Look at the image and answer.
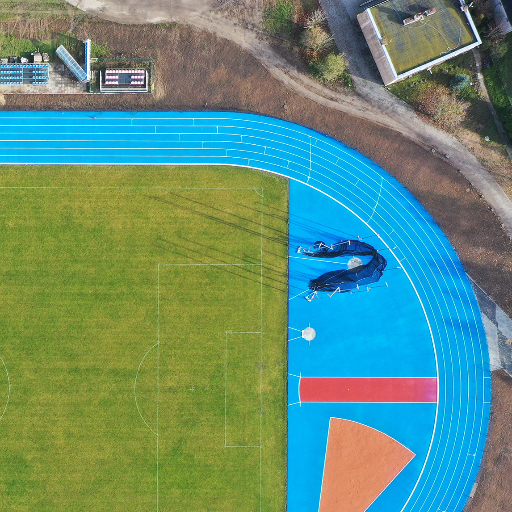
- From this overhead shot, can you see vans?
No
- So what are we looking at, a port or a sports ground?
sports ground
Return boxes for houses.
[352,0,483,86]
[490,0,512,34]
